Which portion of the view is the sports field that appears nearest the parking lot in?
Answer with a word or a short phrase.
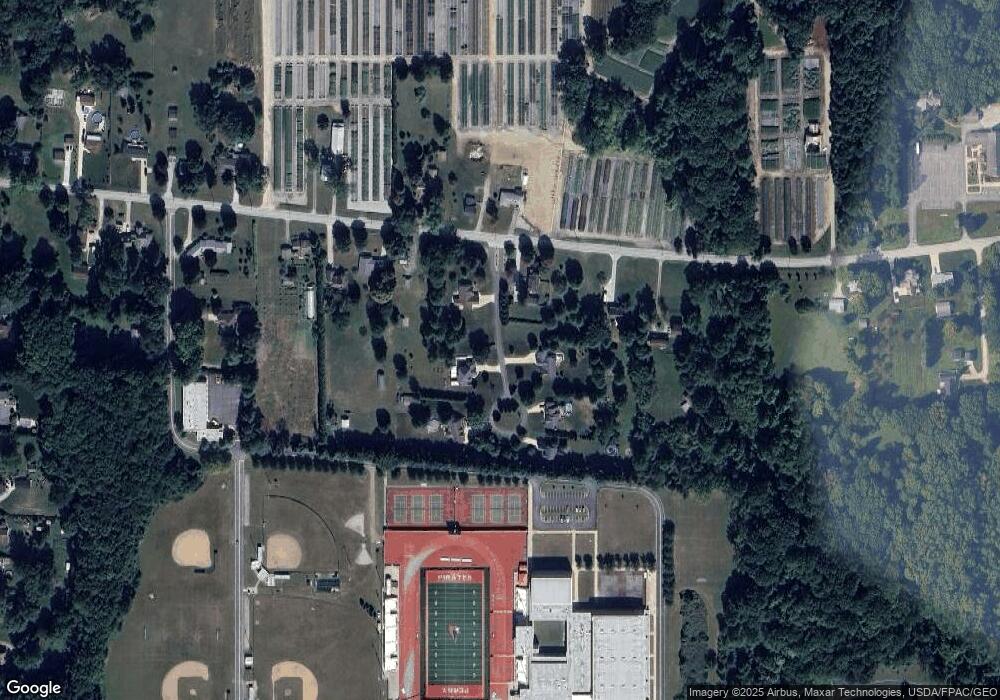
bottom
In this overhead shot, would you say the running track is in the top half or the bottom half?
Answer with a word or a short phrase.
bottom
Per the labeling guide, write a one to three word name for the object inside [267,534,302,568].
baseball field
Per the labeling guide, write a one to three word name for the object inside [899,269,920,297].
house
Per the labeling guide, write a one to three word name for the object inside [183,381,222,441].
building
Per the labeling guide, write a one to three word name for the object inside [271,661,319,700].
baseball field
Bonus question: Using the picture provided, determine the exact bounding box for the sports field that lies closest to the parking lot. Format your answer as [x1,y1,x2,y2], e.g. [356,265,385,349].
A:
[421,567,490,700]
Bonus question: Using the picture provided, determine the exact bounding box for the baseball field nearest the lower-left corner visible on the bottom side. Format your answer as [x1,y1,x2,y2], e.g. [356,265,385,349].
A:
[160,661,212,700]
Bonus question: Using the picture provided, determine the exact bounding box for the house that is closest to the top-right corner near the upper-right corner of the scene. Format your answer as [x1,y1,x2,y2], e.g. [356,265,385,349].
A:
[917,92,941,110]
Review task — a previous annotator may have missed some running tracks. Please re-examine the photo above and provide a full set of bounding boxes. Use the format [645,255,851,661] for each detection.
[386,531,527,700]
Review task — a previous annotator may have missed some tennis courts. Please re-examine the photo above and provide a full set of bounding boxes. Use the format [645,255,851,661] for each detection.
[472,495,485,523]
[430,495,444,523]
[411,495,426,523]
[394,495,408,523]
[490,495,505,523]
[507,495,521,523]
